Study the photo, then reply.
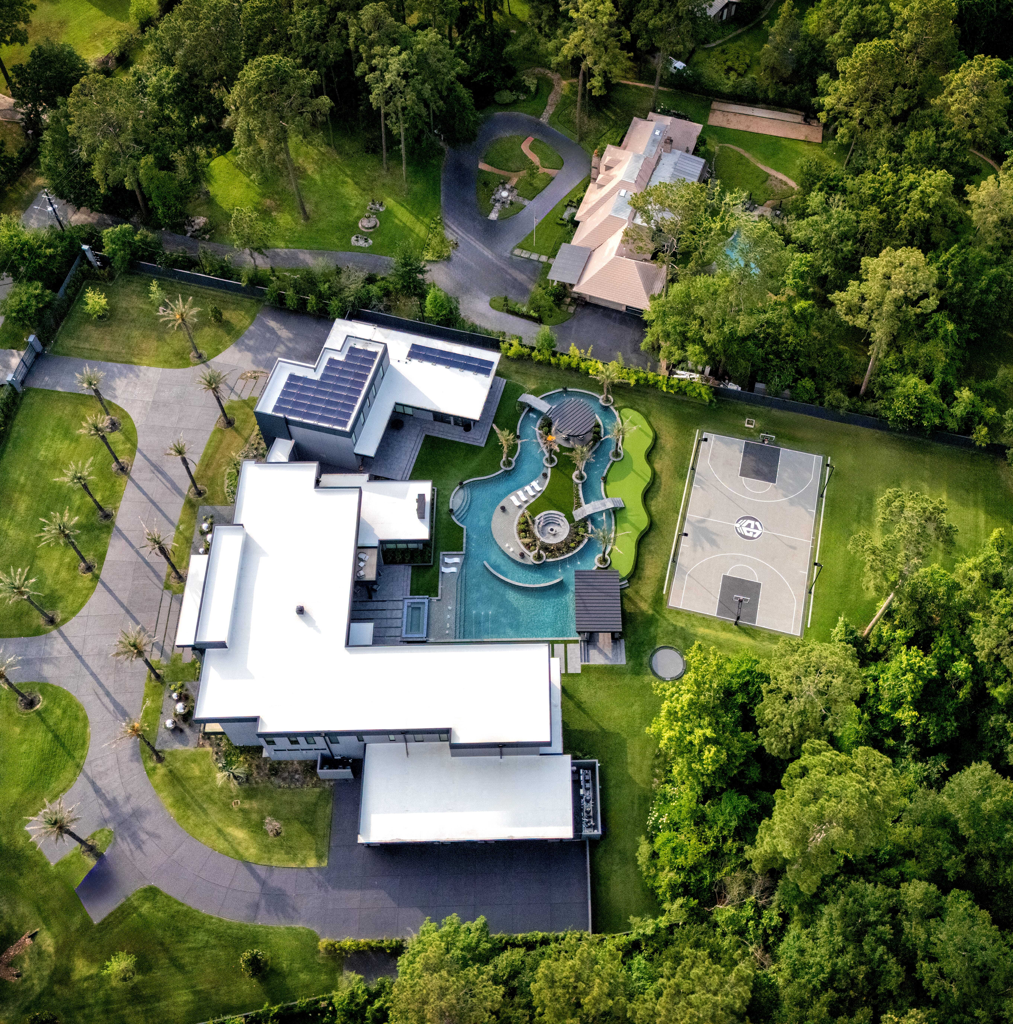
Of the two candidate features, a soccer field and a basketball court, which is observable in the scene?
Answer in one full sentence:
The one in the frame is a basketball court.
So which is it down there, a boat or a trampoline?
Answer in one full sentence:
It is a trampoline that can be seen here.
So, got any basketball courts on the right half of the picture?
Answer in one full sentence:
Yes, looking on the right half of the picture, one can make out a basketball court.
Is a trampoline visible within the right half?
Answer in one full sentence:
Yes, there is a trampoline within the right half.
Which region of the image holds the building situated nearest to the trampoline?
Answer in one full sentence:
The building situated nearest to the trampoline is located in the center region of the scene.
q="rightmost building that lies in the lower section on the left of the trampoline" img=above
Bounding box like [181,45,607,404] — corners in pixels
[575,569,629,665]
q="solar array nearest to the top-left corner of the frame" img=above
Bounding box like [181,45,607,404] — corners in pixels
[270,344,382,427]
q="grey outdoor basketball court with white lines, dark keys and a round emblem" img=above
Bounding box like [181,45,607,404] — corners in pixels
[666,429,826,637]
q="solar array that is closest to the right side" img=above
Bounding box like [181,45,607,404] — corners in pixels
[404,344,496,377]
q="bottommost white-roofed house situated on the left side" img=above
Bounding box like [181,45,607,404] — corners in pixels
[174,438,573,845]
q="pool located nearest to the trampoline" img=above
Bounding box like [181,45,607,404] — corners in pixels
[426,388,623,642]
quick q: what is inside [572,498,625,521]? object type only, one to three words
bridge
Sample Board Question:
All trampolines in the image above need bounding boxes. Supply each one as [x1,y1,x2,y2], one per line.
[649,638,690,679]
